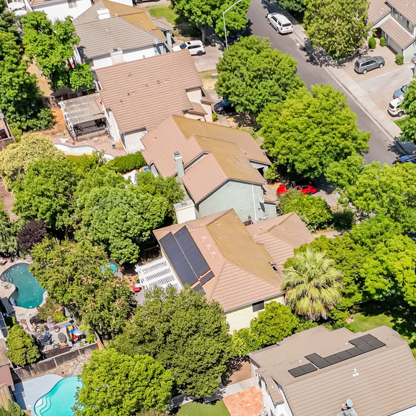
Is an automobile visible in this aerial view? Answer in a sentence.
Yes, the image includes an automobile.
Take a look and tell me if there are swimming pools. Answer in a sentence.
Yes, this view includes a swimming pool.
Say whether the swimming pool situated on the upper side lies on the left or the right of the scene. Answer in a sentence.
You can find the swimming pool situated on the upper side on the left side of the picture.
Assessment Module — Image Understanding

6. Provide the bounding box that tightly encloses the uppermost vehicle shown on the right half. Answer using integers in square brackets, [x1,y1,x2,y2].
[267,12,293,32]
